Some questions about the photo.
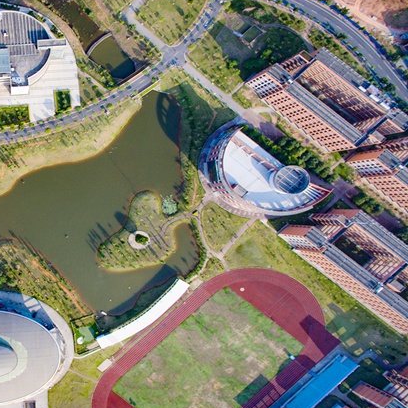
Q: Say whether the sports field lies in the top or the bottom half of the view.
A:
bottom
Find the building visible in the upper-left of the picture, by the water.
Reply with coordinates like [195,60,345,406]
[0,9,66,97]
